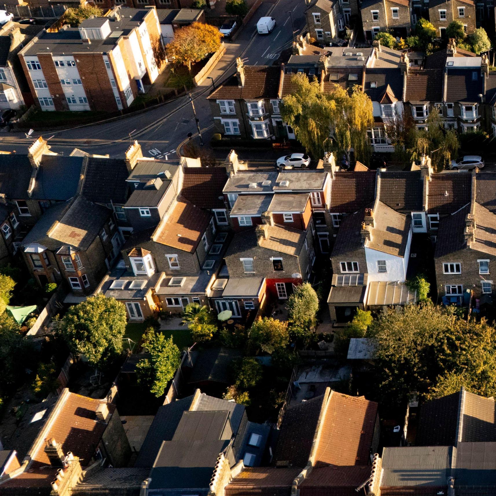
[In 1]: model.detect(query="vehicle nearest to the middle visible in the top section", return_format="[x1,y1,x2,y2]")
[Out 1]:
[277,151,313,168]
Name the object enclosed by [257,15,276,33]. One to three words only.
vehicle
